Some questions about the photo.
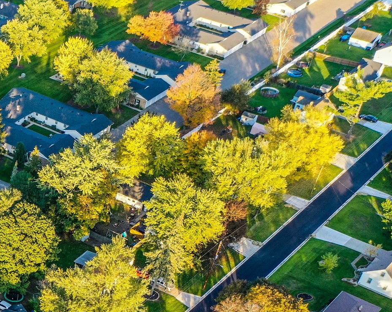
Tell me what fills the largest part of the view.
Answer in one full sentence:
The scene is dominated by trees.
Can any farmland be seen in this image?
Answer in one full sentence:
No, there is no farmland in the image.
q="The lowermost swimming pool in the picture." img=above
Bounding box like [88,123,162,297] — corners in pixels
[260,84,282,96]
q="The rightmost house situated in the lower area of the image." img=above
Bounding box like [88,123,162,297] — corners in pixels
[358,246,392,294]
